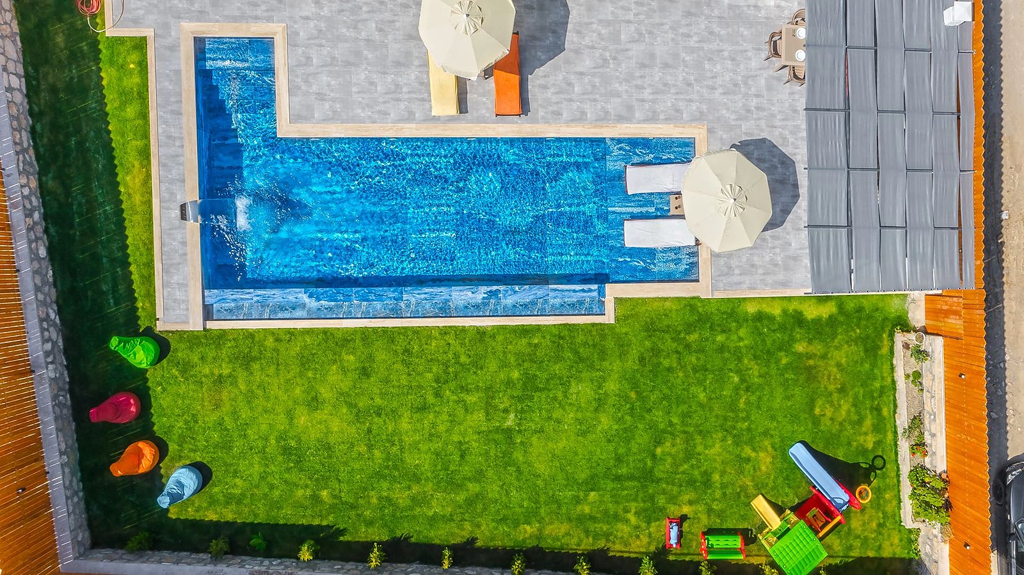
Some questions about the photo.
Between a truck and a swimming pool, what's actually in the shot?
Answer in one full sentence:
The image shows a swimming pool.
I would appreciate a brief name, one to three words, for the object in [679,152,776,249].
umbrella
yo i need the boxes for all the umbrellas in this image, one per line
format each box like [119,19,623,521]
[419,0,515,77]
[679,152,776,249]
